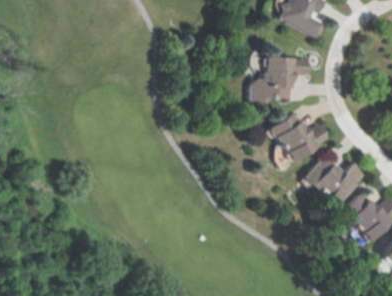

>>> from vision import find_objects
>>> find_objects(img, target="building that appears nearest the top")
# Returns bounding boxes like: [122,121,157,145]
[274,0,324,38]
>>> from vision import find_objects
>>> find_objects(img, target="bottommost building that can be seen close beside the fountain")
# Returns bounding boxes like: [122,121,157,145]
[244,52,310,105]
